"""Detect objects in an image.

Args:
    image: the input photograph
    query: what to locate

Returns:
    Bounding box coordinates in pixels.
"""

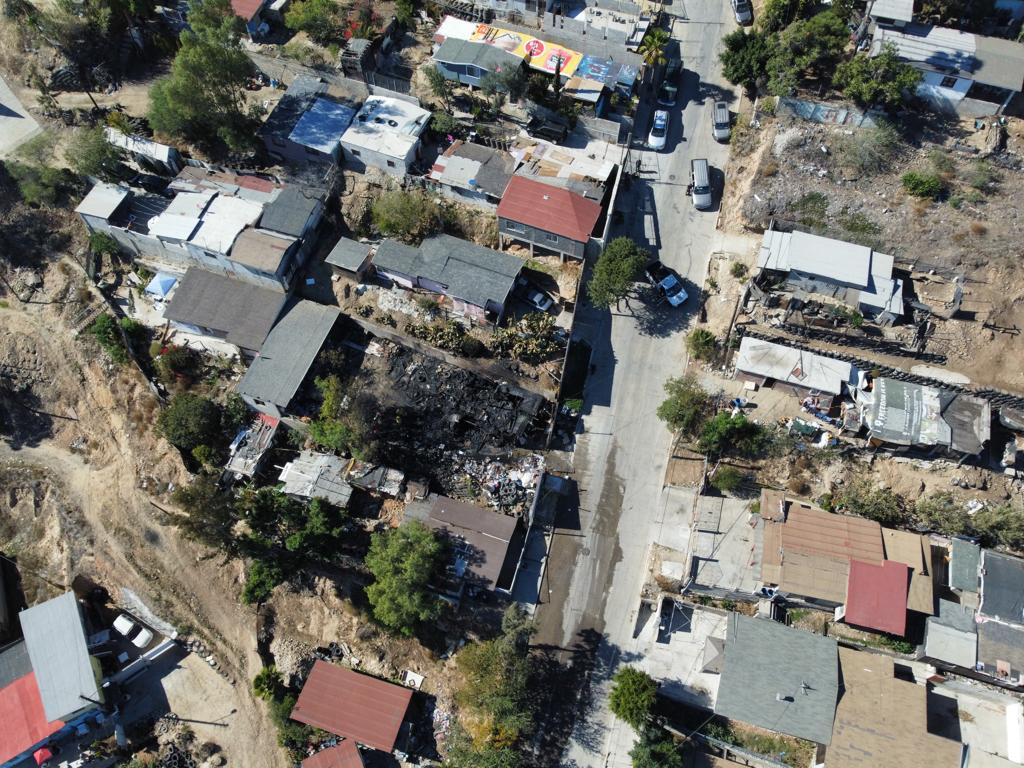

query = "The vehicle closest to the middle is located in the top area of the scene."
[514,273,560,316]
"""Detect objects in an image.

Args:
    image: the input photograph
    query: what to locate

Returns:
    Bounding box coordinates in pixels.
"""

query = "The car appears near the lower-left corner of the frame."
[104,609,157,654]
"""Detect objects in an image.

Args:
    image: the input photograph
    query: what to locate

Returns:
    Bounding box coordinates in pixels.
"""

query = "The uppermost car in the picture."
[731,0,752,21]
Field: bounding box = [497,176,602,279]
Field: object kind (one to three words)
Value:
house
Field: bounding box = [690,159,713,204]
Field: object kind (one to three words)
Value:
vehicle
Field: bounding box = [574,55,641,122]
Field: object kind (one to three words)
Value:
building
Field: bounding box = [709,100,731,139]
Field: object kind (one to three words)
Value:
car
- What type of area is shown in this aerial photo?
residential area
